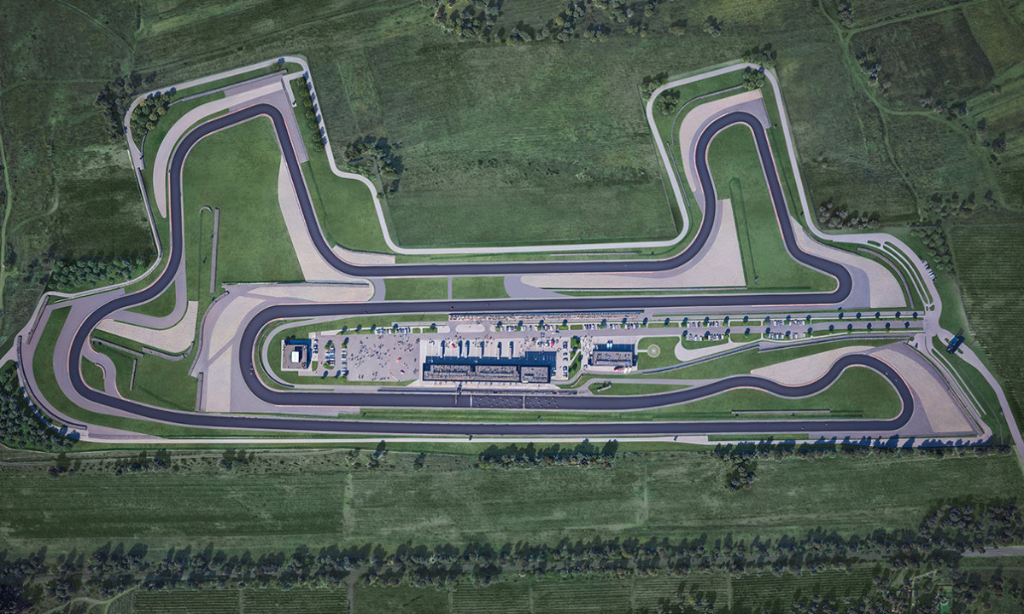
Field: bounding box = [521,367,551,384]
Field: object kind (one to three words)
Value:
building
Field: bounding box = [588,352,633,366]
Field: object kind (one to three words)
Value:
building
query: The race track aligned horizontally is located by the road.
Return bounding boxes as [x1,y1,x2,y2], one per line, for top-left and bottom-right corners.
[68,103,914,435]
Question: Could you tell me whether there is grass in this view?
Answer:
Yes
